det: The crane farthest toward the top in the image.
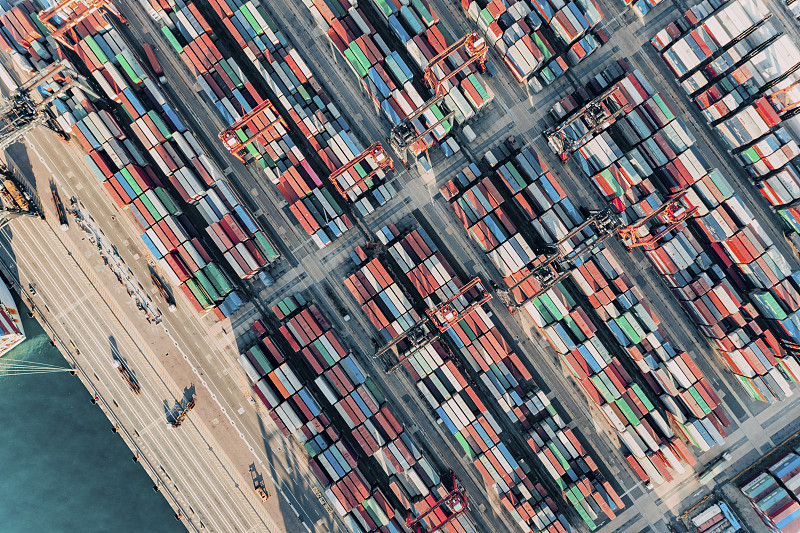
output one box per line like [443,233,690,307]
[32,0,132,64]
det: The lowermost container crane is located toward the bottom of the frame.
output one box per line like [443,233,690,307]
[405,461,475,533]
